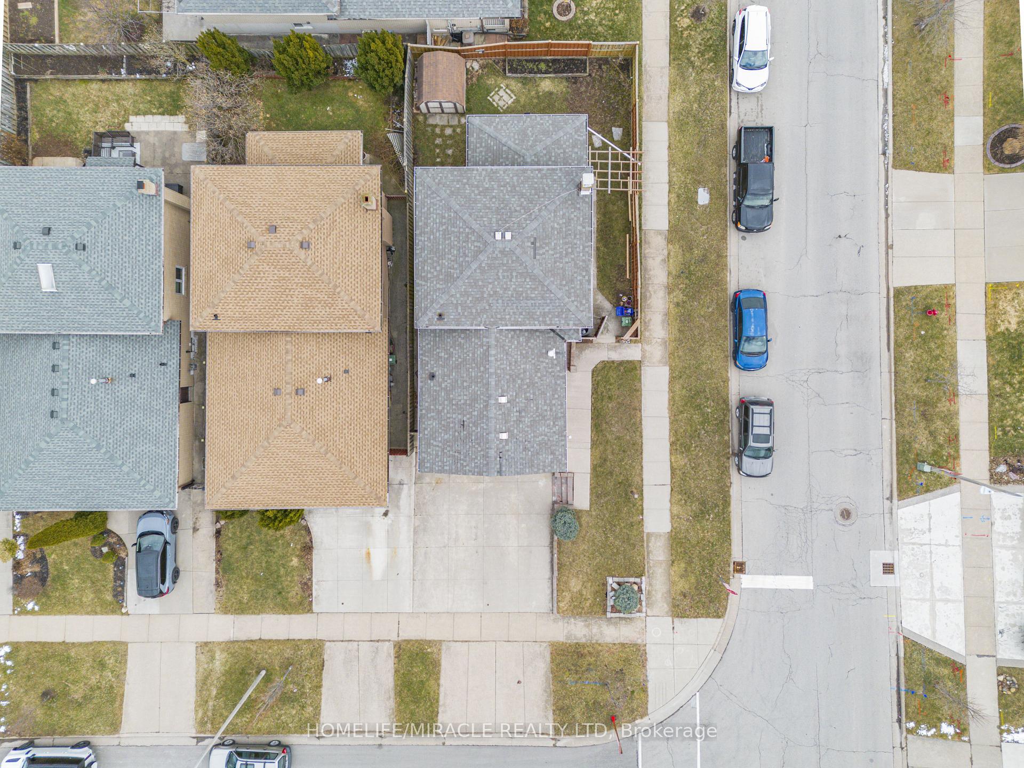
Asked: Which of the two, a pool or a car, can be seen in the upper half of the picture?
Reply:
car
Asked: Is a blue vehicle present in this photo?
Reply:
Yes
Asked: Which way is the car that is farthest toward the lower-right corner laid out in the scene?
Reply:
from top to bottom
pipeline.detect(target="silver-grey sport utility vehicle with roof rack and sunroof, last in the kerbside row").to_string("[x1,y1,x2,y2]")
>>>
[731,395,775,479]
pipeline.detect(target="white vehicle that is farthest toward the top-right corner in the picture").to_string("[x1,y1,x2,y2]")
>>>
[730,4,775,94]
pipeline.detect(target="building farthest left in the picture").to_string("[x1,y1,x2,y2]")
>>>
[0,156,197,513]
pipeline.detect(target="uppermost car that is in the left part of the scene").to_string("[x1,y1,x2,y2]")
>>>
[129,513,178,599]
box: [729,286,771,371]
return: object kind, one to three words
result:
car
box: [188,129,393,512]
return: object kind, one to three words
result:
house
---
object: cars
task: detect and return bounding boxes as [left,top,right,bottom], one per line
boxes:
[729,286,771,371]
[129,513,178,599]
[730,4,775,94]
[0,741,99,768]
[731,395,775,479]
[209,739,294,768]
